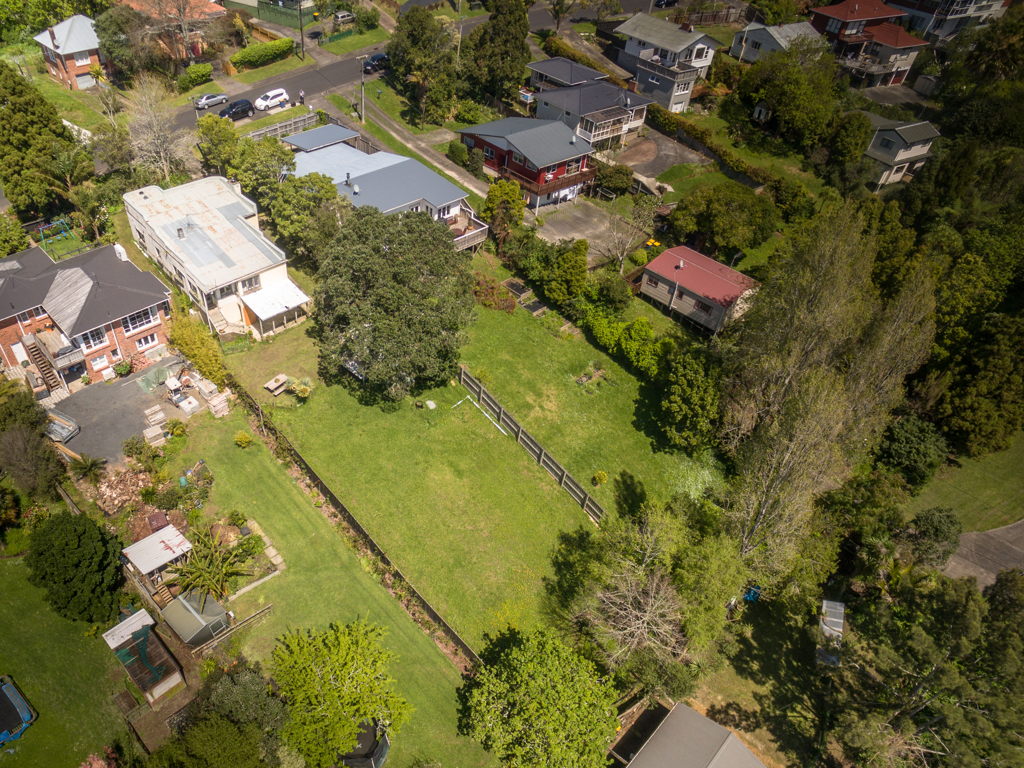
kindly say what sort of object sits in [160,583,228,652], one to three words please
shed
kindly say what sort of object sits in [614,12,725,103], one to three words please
house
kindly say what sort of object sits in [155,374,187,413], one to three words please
work vehicle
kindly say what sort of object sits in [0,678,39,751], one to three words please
trampoline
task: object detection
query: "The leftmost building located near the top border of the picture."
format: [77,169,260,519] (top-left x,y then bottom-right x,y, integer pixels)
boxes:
[33,15,106,92]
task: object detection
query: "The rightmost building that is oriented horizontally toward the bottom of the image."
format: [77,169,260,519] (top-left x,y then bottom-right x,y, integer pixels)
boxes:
[626,702,772,768]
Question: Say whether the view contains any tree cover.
Yes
